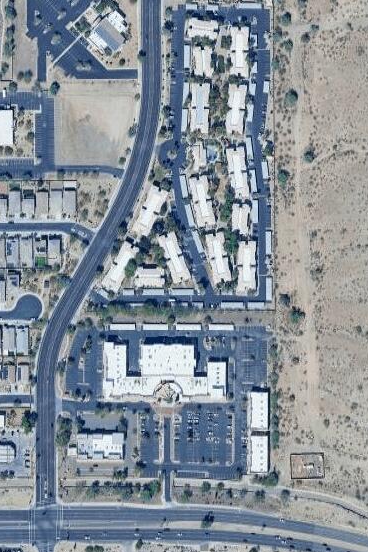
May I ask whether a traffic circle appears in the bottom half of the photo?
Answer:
No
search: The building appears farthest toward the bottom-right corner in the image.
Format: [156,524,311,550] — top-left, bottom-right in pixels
[251,437,268,473]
